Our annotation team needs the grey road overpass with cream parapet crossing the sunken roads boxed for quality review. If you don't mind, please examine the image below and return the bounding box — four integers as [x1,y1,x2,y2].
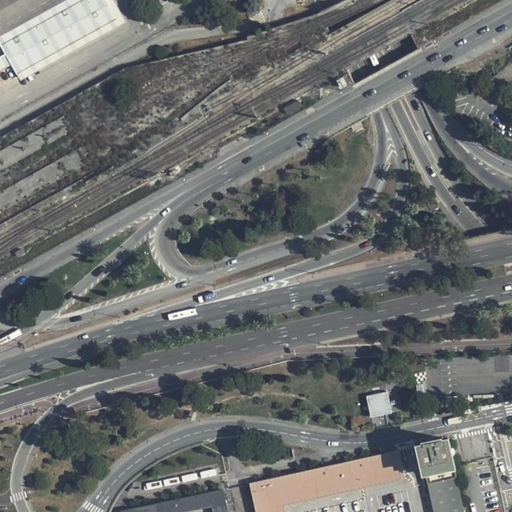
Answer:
[338,48,432,132]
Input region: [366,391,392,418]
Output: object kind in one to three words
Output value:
building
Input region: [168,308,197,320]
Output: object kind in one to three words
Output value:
vehicle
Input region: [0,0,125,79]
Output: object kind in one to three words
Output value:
building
